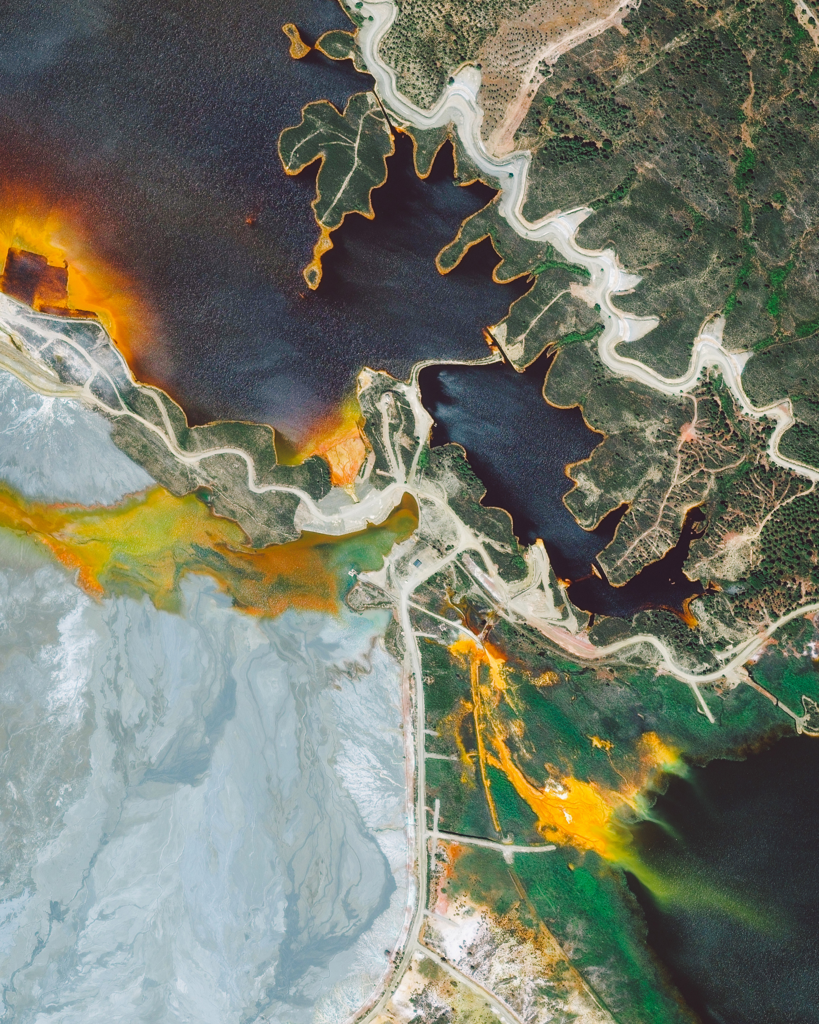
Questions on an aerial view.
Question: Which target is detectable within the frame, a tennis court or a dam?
dam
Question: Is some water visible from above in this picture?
Yes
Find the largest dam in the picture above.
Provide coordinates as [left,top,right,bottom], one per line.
[294,479,412,536]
